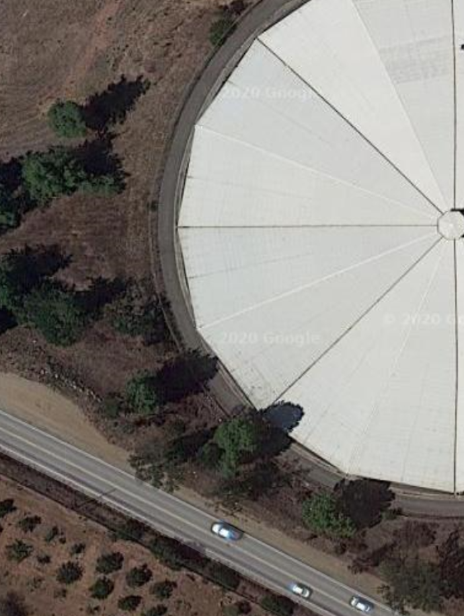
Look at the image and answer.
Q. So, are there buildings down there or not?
No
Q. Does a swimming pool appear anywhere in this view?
No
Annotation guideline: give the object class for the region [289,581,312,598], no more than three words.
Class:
car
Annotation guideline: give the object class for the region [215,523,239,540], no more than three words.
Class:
car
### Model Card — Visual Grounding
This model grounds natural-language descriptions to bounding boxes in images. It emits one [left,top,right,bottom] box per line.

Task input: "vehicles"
[215,523,239,540]
[289,581,312,598]
[350,595,373,611]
